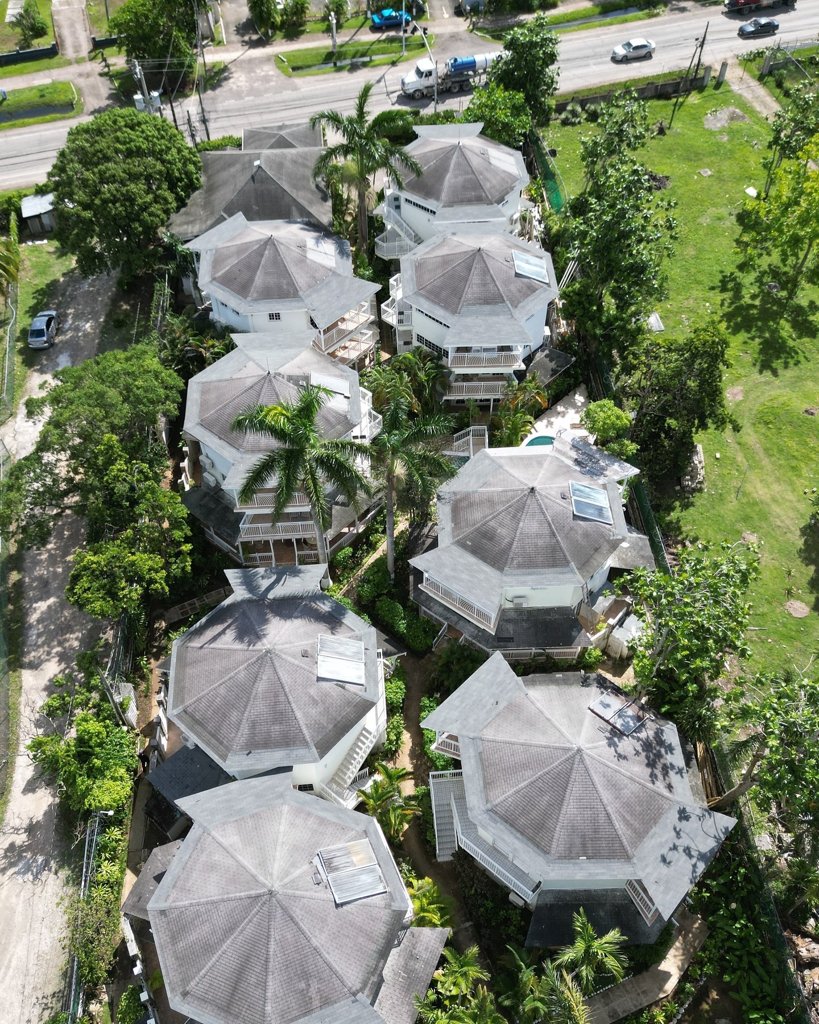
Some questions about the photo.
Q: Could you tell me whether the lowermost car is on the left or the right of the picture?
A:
left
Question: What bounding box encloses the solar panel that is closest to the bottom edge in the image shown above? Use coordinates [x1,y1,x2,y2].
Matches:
[316,838,389,908]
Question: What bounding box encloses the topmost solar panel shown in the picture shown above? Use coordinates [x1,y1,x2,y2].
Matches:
[511,251,549,285]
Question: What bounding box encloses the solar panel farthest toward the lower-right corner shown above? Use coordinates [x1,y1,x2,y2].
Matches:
[587,689,650,737]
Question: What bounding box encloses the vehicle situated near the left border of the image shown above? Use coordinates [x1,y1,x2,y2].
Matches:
[25,310,59,351]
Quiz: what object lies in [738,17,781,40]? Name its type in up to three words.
car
